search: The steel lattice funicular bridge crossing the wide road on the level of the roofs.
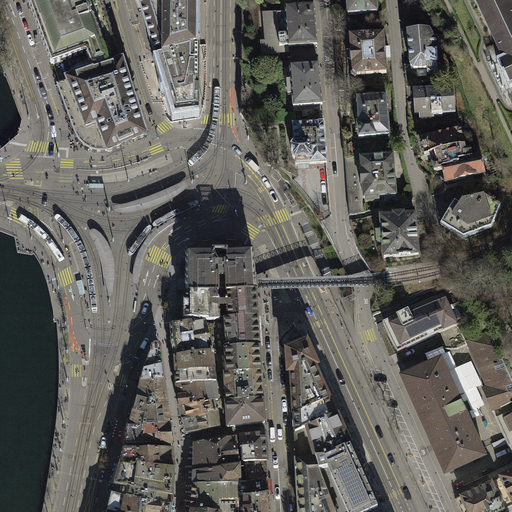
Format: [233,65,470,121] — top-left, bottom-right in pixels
[256,272,386,292]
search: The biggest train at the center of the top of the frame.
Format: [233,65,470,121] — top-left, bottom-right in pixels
[189,86,220,167]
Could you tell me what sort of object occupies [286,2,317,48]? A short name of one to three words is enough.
house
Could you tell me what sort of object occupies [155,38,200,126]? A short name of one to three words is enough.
building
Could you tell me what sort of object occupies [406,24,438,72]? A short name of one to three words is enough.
house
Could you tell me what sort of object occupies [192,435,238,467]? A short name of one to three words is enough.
building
